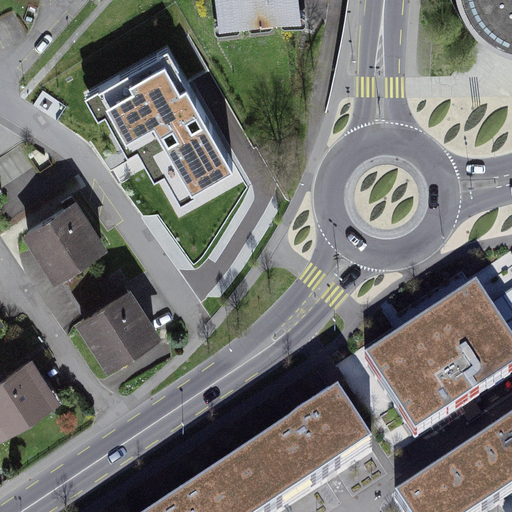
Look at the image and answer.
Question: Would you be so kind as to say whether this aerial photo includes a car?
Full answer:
Yes, a car is visible in the scene.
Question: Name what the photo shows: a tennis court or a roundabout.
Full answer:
It is a roundabout that can be seen here.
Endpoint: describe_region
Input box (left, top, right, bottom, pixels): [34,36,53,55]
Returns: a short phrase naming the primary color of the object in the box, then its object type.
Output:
white car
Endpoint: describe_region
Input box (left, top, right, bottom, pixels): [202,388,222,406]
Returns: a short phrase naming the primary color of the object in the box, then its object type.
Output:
black car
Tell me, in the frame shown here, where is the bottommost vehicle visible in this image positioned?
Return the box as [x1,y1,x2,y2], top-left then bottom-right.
[107,448,128,464]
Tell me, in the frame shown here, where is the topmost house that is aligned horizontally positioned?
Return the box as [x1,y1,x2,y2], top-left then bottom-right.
[214,0,305,39]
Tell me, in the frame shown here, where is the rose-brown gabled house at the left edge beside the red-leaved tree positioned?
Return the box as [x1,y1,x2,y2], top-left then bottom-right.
[0,361,60,444]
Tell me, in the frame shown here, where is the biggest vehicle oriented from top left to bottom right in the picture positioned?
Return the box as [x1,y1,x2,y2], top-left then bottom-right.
[346,234,368,253]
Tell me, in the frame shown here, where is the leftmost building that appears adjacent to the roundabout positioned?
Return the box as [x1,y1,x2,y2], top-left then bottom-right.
[84,48,244,218]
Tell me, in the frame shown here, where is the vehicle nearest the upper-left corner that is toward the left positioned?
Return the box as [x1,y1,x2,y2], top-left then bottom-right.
[24,6,36,25]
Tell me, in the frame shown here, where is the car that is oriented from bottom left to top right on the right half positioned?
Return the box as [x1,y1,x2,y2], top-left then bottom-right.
[339,266,360,288]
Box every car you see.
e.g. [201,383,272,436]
[34,36,53,55]
[152,314,174,330]
[466,164,486,176]
[107,448,128,464]
[202,388,222,406]
[24,6,36,25]
[346,234,368,253]
[339,266,360,288]
[428,186,438,209]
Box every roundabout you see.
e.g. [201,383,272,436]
[312,122,460,272]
